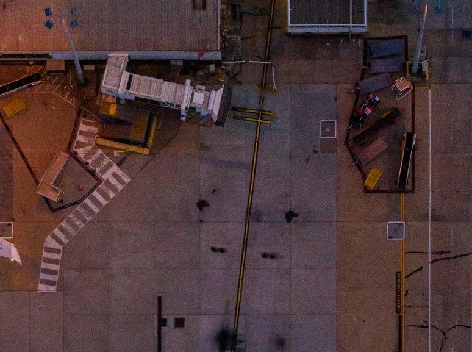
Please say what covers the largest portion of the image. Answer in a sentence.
For the most part, this view shows paved ground.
